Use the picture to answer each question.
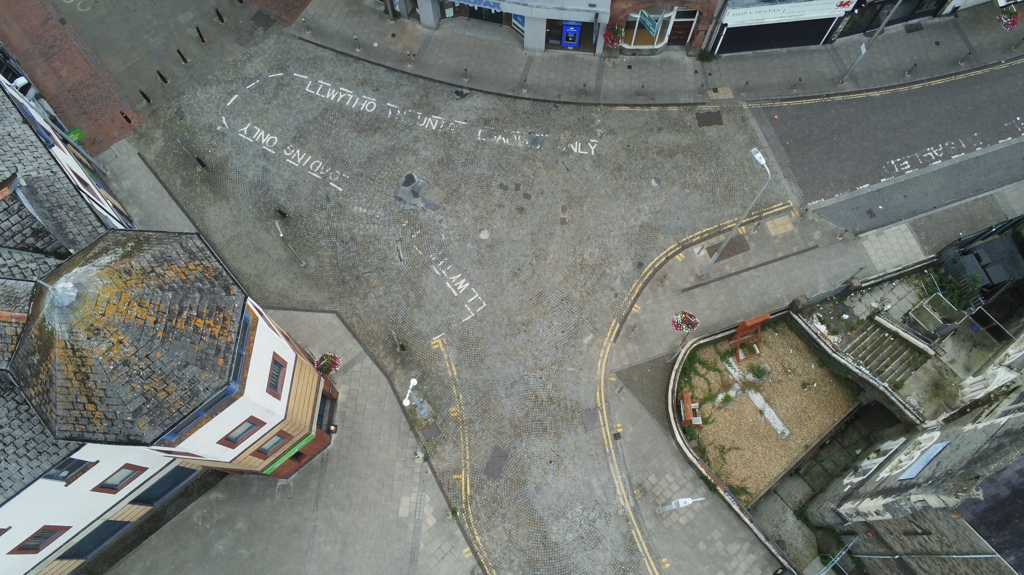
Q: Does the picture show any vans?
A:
No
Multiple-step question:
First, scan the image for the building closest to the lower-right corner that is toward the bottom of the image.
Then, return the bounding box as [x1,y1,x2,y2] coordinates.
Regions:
[803,307,1024,575]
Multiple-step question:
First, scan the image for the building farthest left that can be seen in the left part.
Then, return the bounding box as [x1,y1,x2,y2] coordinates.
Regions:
[0,50,339,575]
